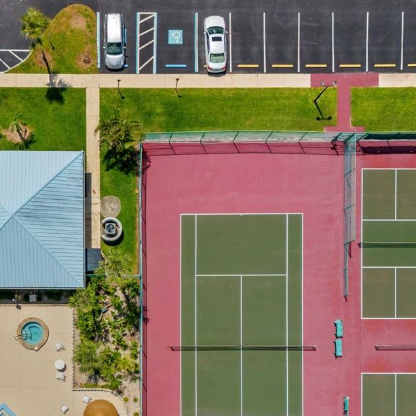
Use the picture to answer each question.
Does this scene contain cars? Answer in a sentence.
Yes, the image includes a car.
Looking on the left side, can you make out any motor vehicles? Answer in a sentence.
Yes, a motor vehicle can be seen on the left side.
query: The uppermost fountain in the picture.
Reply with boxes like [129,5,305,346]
[101,218,123,241]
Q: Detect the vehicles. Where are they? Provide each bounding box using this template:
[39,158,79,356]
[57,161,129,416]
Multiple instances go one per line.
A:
[102,12,127,70]
[205,16,230,73]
